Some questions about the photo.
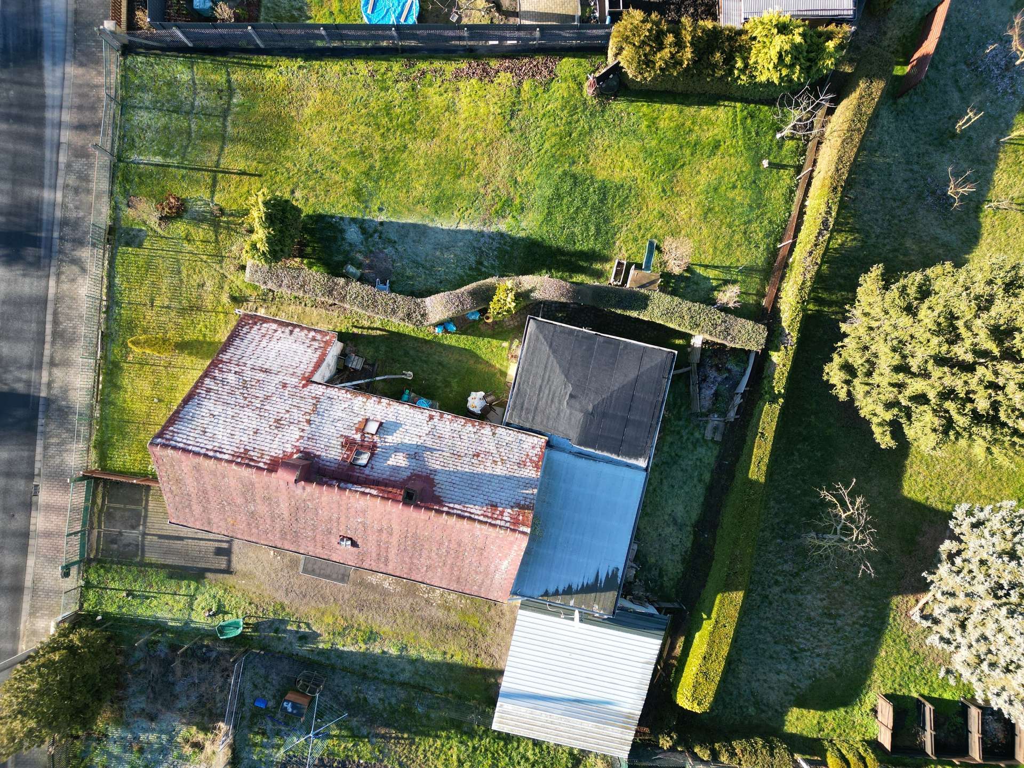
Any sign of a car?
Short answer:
No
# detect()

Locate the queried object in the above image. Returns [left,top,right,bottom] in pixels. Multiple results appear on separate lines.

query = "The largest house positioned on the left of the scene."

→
[147,309,547,604]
